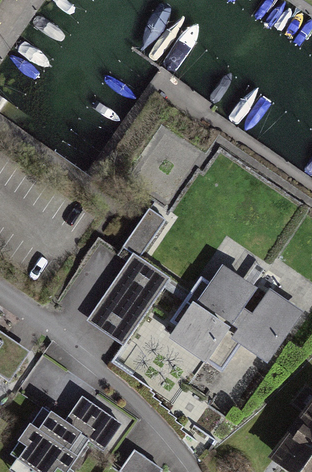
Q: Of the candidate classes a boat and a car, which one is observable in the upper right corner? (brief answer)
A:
boat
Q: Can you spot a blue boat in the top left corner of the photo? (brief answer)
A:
Yes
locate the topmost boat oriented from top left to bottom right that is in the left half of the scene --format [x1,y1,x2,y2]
[54,0,76,14]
